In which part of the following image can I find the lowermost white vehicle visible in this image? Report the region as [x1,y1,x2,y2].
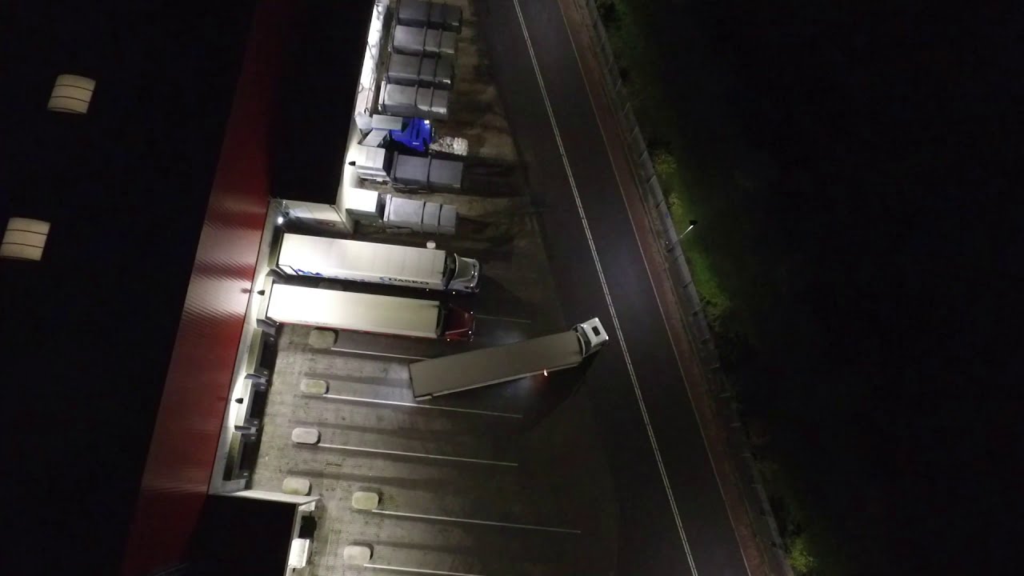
[268,284,478,344]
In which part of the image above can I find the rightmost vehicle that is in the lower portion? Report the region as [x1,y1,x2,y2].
[407,313,616,397]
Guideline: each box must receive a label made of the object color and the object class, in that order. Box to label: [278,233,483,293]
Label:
white truck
